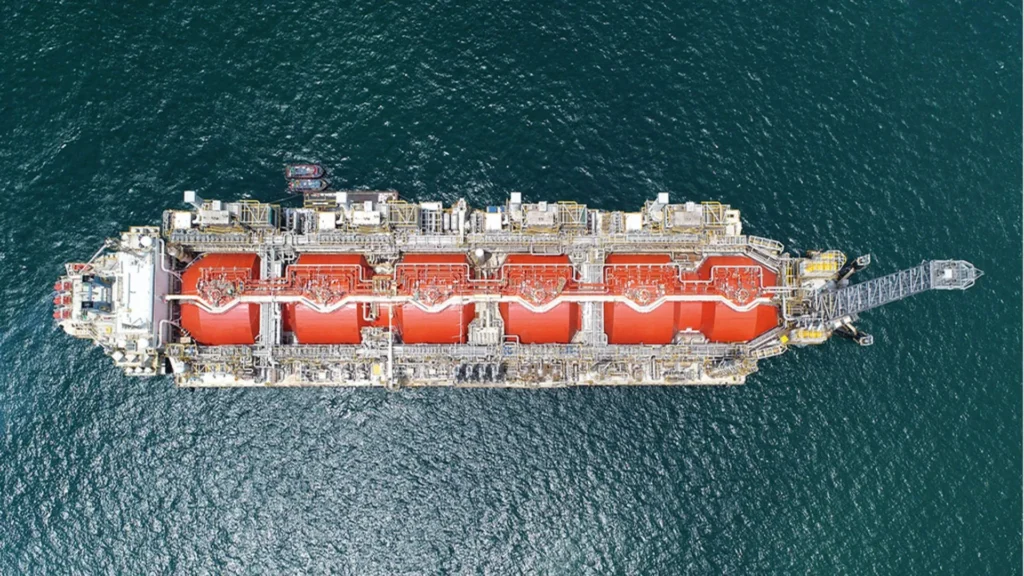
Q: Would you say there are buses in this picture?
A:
No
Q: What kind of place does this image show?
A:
industrial area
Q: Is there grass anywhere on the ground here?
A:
No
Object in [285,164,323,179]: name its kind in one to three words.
boat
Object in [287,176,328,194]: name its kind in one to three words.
boat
